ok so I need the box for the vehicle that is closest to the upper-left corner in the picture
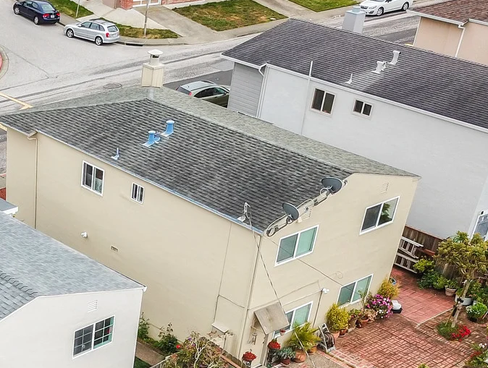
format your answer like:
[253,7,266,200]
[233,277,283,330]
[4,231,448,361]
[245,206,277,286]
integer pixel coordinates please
[10,0,63,25]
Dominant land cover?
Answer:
buildings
